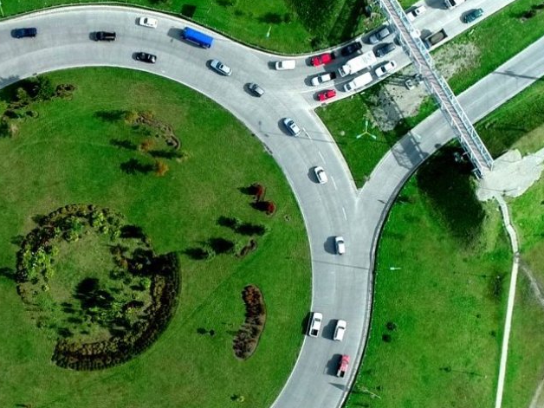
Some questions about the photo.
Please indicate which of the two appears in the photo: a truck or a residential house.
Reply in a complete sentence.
It is a truck that can be seen here.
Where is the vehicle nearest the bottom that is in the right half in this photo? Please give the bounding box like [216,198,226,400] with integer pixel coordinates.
[337,353,350,377]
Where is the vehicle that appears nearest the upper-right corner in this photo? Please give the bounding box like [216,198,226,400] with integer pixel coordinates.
[461,6,485,25]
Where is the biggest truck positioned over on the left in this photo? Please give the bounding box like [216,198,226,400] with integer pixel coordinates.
[181,27,216,48]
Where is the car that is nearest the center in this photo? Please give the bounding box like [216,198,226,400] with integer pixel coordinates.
[314,165,328,185]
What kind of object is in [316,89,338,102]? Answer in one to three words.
vehicle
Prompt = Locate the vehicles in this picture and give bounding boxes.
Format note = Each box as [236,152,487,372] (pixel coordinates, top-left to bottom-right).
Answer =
[333,319,345,341]
[138,16,157,28]
[337,47,382,79]
[461,6,485,25]
[368,26,391,44]
[95,31,116,41]
[314,165,328,185]
[311,71,334,86]
[316,89,338,102]
[374,61,397,78]
[377,41,397,57]
[14,27,38,38]
[341,41,363,57]
[420,27,453,52]
[311,53,334,67]
[342,69,376,94]
[334,235,344,254]
[309,311,320,337]
[181,27,216,48]
[135,53,157,63]
[404,4,428,23]
[246,82,264,97]
[210,59,232,77]
[284,117,299,136]
[337,353,350,377]
[275,59,297,71]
